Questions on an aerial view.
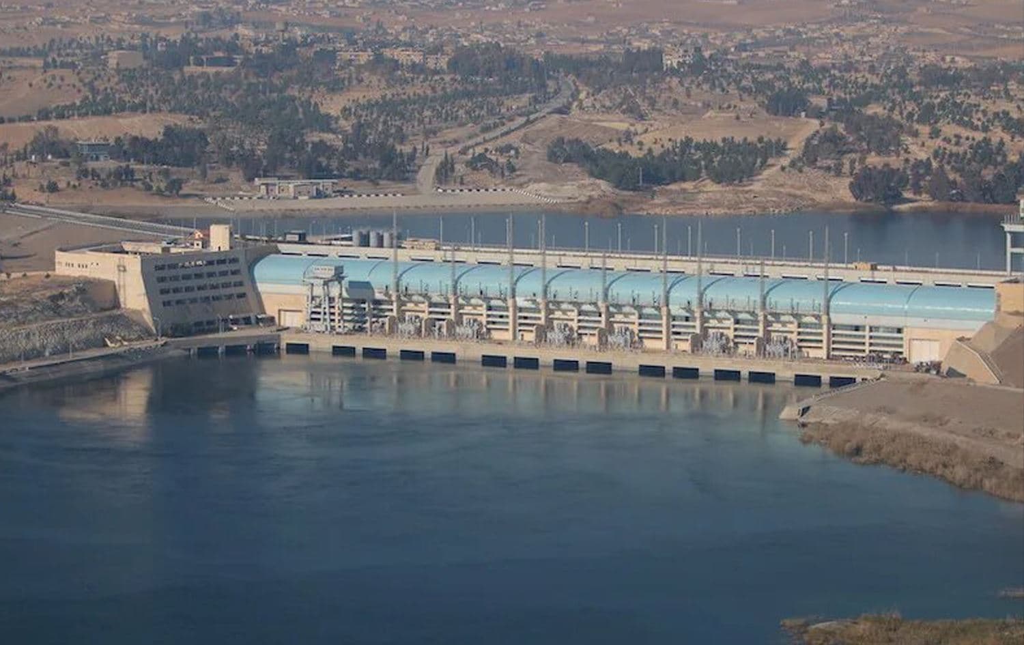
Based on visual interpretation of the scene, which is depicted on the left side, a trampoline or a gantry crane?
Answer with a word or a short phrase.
gantry crane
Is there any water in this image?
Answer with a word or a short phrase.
Yes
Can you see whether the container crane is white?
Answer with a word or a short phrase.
Yes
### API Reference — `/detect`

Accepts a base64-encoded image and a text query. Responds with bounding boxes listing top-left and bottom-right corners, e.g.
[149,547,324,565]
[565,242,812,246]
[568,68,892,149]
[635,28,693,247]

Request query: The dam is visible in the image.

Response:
[266,236,1024,289]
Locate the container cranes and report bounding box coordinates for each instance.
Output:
[299,261,352,334]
